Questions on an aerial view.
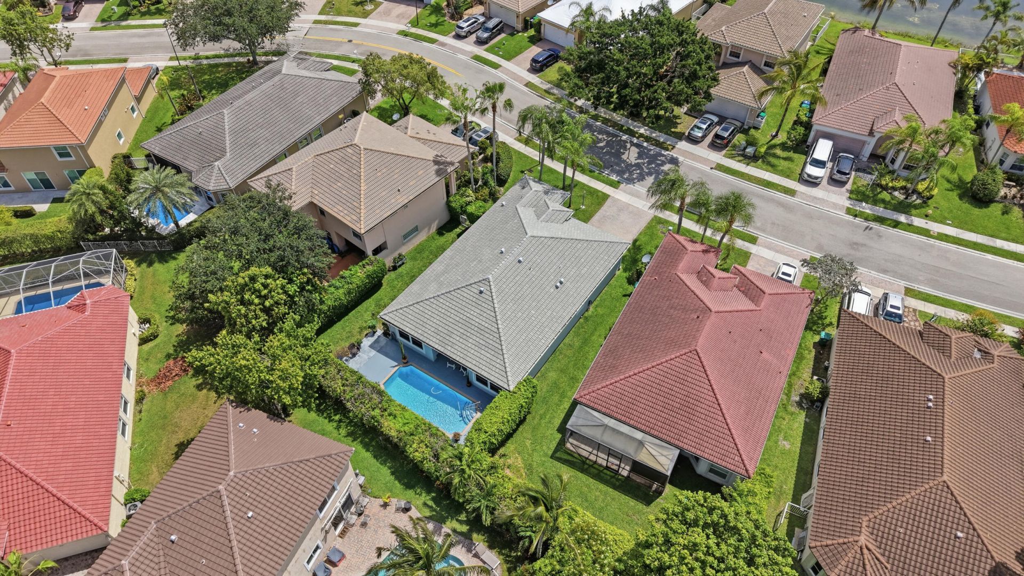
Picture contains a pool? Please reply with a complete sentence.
Yes, a pool is visible in the scene.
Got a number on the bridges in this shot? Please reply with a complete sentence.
There are no bridges in the image.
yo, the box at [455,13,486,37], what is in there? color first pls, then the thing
gray car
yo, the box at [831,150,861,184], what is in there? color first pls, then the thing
gray car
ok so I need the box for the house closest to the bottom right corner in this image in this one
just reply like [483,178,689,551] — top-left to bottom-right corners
[803,306,1024,576]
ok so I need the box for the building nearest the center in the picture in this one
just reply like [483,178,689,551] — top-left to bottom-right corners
[378,171,632,397]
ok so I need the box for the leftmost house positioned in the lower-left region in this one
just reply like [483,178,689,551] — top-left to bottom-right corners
[0,283,138,575]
